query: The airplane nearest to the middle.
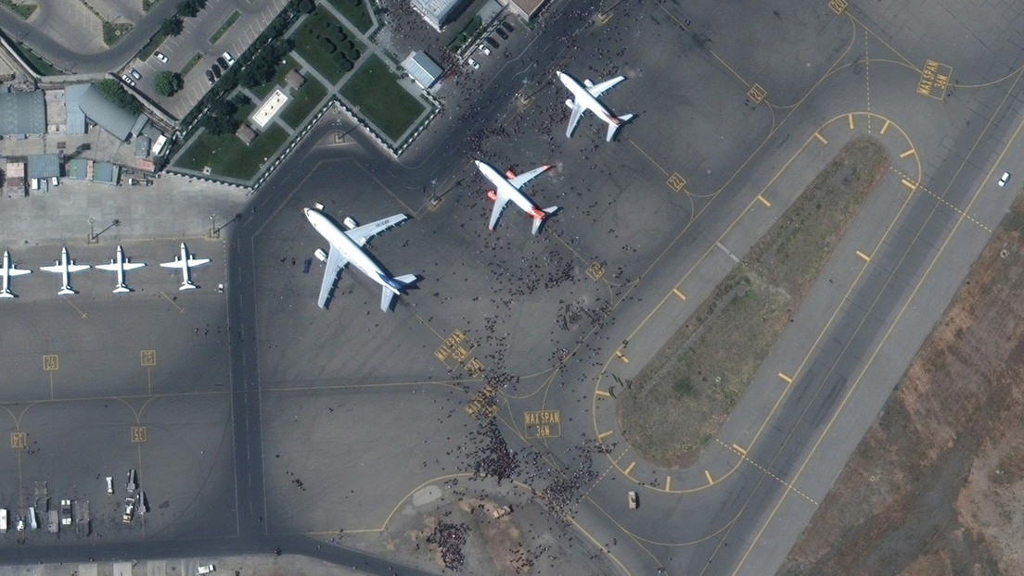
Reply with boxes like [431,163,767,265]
[475,160,556,228]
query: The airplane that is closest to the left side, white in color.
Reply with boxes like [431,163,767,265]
[0,251,31,296]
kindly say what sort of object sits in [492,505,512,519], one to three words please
vehicle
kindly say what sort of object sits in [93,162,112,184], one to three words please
shed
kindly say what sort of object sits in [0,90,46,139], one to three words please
building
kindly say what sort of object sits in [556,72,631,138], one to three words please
airplane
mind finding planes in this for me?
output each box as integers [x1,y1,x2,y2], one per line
[304,208,414,309]
[160,243,210,288]
[0,251,31,296]
[475,160,556,228]
[41,248,91,292]
[556,72,631,138]
[95,246,145,291]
